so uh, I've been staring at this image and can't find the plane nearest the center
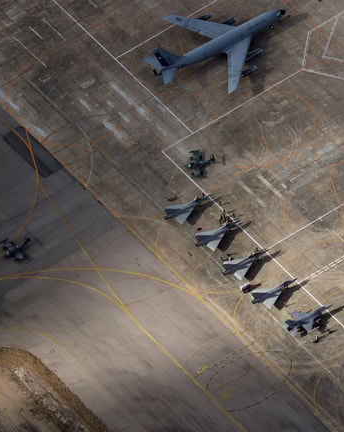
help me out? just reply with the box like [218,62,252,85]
[164,195,212,226]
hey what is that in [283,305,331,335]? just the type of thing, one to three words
airplane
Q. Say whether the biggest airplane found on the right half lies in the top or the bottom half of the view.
top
